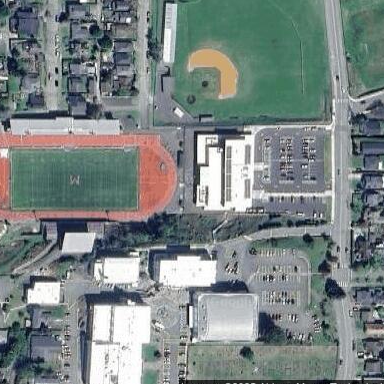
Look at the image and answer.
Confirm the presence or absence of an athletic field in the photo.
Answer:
Yes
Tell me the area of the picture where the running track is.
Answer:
left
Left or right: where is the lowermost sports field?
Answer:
left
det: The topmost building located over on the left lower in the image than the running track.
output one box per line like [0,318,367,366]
[62,233,95,253]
